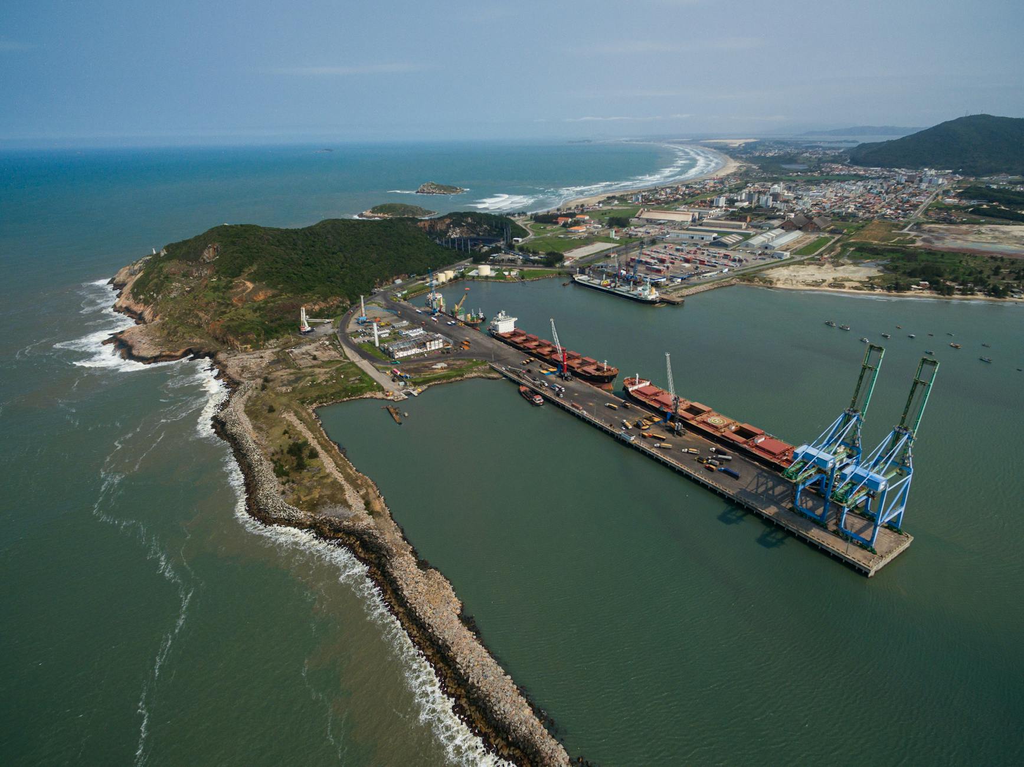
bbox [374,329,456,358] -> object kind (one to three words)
building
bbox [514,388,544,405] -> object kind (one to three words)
boat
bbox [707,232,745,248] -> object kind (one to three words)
building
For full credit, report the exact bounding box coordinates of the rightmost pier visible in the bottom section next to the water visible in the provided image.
[490,356,916,576]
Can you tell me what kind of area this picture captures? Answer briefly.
port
